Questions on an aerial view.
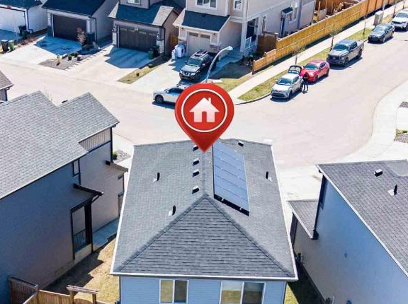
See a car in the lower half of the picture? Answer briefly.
No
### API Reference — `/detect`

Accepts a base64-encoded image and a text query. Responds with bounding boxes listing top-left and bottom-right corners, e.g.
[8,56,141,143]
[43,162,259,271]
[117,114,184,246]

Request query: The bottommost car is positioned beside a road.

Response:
[147,78,202,104]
